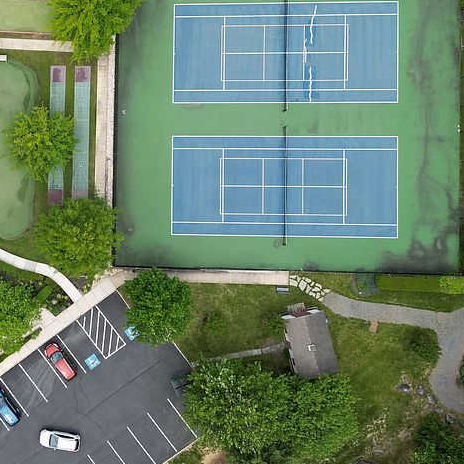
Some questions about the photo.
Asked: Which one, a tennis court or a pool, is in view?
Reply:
tennis court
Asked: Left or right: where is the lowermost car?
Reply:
left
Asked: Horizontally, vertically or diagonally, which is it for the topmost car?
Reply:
diagonally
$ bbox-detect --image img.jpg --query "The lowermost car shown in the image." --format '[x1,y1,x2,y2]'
[38,427,82,450]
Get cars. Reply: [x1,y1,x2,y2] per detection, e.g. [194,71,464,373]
[43,341,78,380]
[38,427,82,450]
[0,385,23,427]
